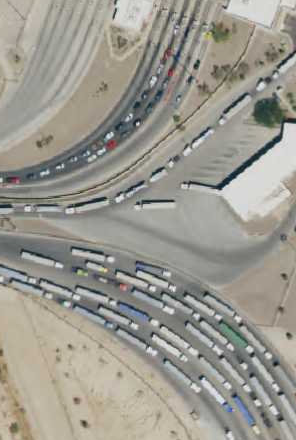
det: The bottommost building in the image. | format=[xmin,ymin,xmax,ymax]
[222,122,296,221]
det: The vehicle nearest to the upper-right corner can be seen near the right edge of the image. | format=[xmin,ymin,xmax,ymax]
[272,54,296,80]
